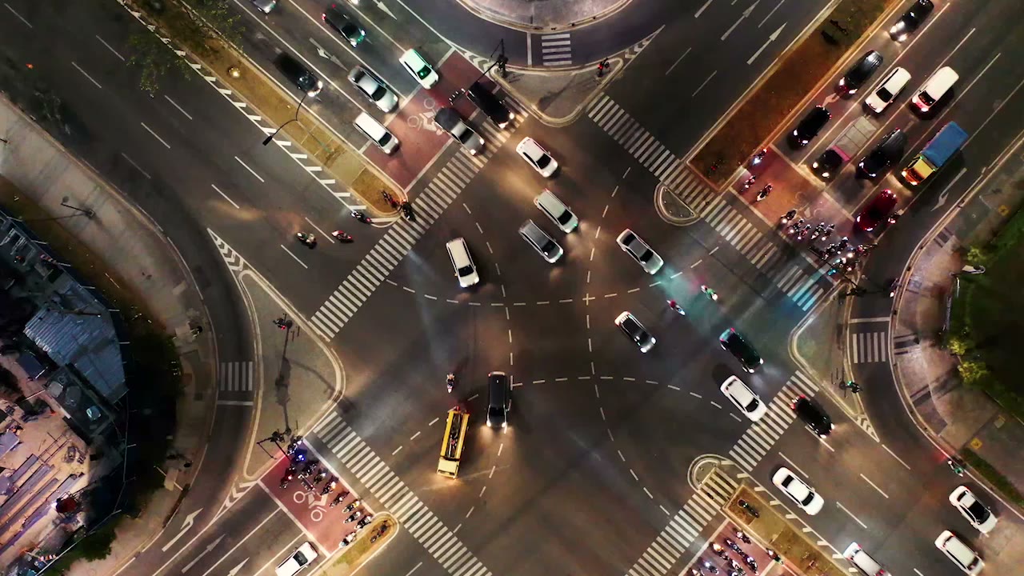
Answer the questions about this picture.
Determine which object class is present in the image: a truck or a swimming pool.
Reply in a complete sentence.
Looking from above, you can make out a truck.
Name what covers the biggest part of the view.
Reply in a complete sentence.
What you mostly see from above here is paved ground.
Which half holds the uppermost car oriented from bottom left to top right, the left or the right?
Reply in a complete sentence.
The uppermost car oriented from bottom left to top right sits on the right side.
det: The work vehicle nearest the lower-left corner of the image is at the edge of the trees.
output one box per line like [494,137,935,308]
[53,489,103,518]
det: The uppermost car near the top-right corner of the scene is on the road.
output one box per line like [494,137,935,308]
[887,0,935,42]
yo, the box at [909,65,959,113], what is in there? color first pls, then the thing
white car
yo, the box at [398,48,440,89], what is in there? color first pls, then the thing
white car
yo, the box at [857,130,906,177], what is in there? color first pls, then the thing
black car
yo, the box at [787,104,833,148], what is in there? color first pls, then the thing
black car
